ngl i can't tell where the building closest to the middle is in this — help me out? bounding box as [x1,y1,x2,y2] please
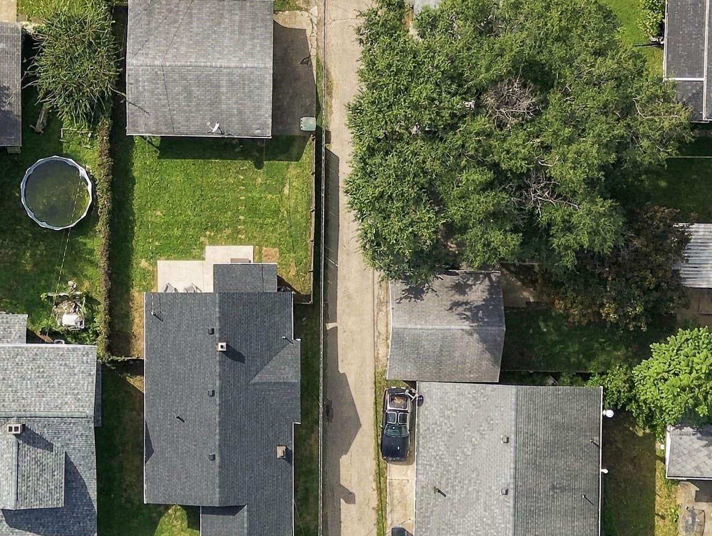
[389,271,505,381]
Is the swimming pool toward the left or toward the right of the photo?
left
